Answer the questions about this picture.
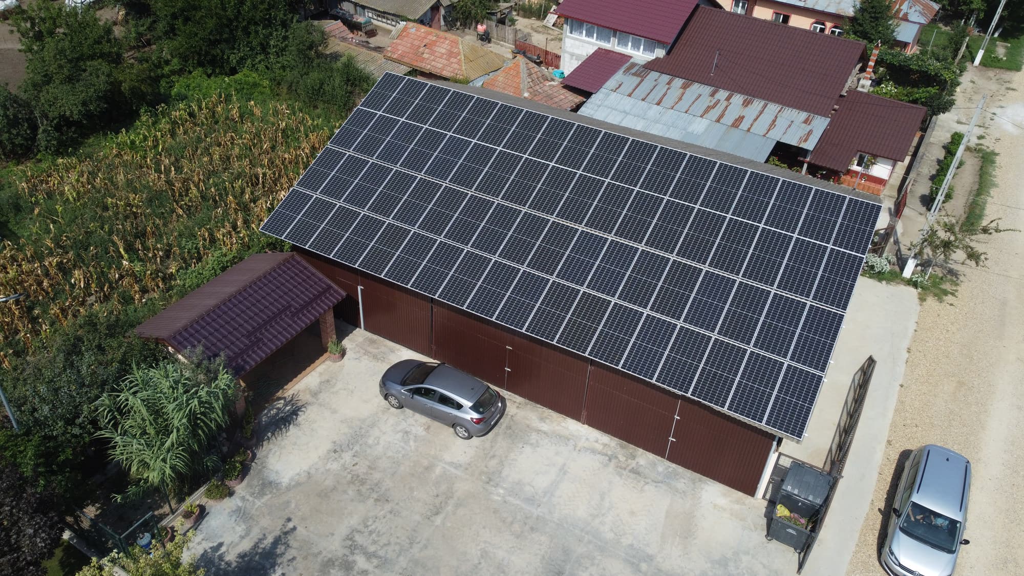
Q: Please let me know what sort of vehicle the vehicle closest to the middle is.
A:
car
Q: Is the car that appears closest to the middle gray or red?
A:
gray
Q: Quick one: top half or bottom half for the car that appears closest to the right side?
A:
bottom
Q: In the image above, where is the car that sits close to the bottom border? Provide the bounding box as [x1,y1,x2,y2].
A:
[879,451,970,576]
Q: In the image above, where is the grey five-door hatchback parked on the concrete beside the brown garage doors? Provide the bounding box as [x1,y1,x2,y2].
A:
[383,358,506,440]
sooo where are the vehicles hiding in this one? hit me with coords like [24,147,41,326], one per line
[879,451,970,576]
[383,358,506,440]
